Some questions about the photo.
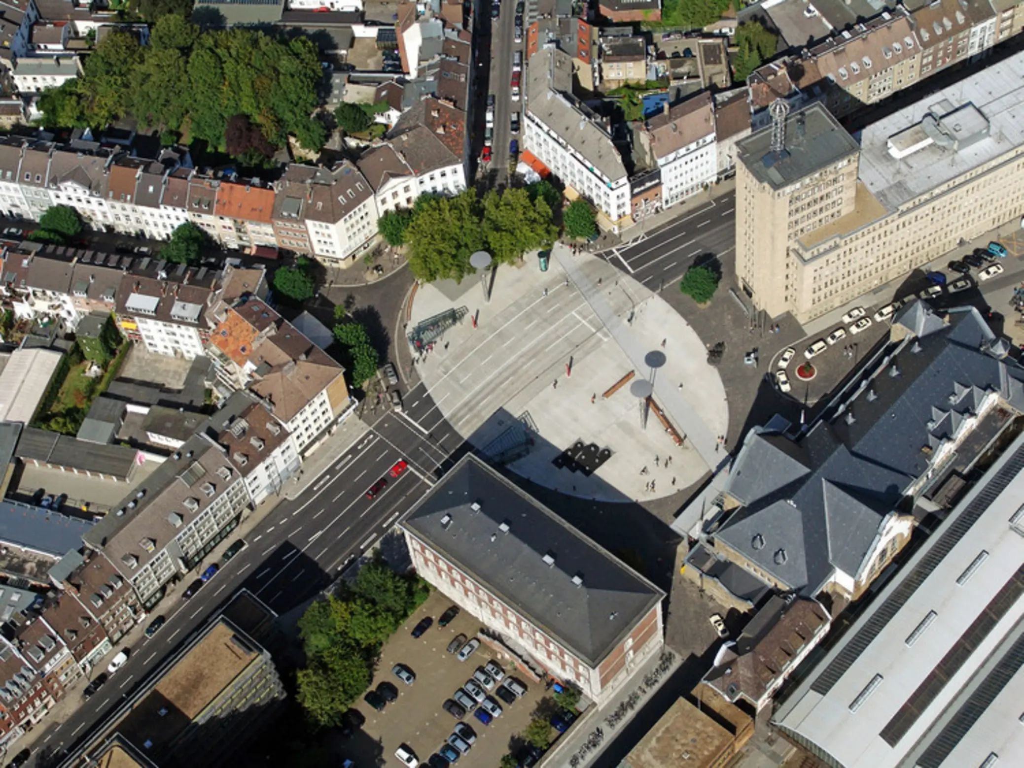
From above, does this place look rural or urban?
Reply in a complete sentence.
It looks urban.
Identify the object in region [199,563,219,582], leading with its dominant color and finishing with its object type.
blue car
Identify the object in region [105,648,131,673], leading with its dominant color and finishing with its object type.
white vehicle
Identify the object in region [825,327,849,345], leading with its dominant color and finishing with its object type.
white car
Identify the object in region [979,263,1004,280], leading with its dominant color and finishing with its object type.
white car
